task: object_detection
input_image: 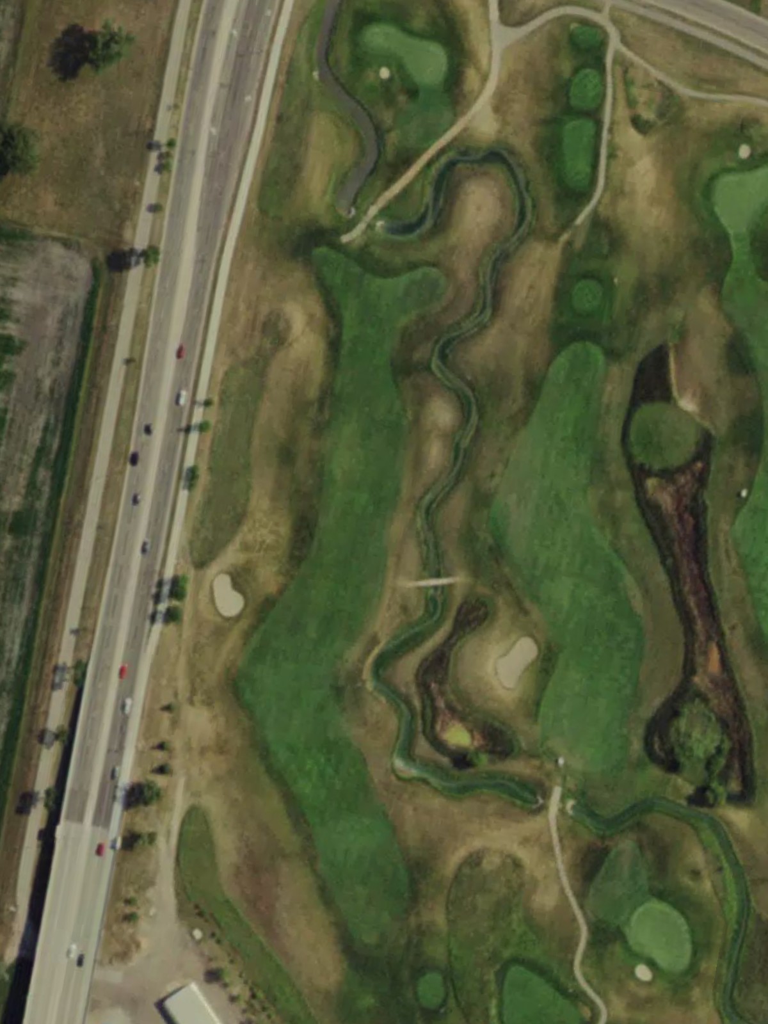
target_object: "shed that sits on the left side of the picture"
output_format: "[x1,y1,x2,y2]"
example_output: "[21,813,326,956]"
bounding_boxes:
[164,981,224,1024]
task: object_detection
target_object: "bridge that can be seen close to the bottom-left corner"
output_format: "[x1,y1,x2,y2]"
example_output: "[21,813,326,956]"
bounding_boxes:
[23,822,121,1024]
